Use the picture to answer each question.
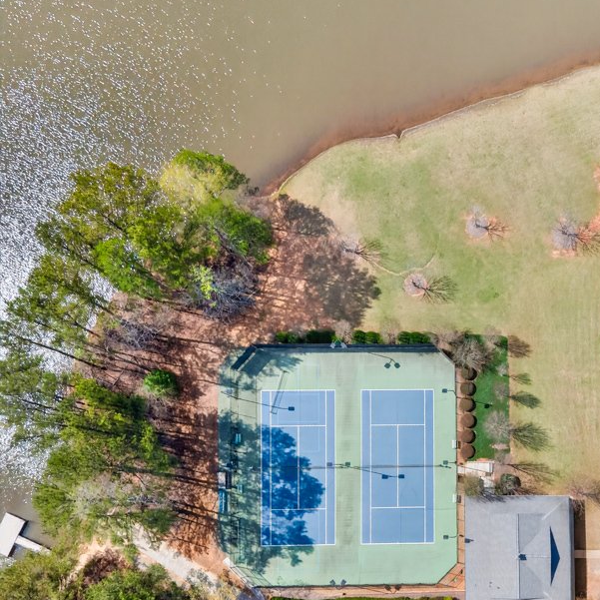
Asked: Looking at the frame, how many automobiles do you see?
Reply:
0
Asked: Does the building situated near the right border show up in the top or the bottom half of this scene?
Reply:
bottom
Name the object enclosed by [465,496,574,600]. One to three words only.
building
